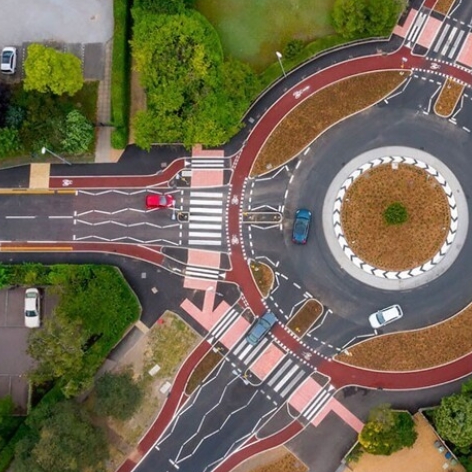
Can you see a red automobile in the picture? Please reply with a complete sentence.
Yes, the frame does contain a red automobile.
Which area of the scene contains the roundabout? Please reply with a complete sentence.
The roundabout is in the right part of the image.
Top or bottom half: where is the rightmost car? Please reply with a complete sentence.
The rightmost car is in the bottom half of the image.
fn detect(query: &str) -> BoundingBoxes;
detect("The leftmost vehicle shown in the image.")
[0,47,19,76]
